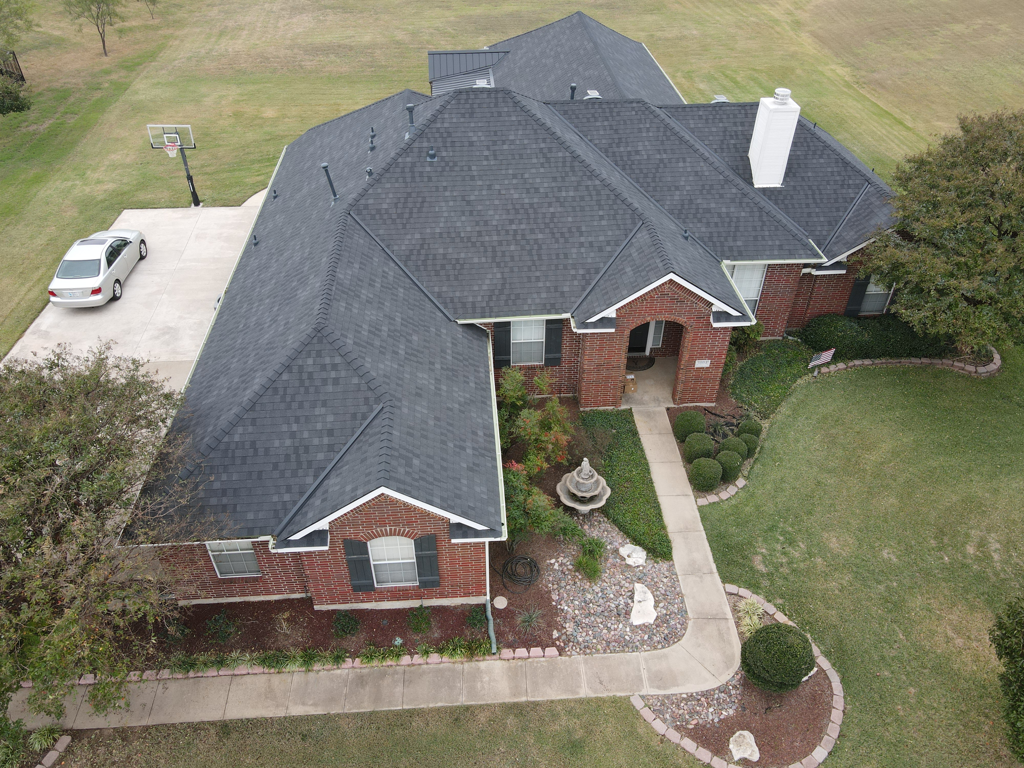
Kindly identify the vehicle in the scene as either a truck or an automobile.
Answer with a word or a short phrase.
automobile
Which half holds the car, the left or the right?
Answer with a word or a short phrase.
left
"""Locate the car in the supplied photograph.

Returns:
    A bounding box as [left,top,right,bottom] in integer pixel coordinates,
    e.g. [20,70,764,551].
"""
[47,229,145,309]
